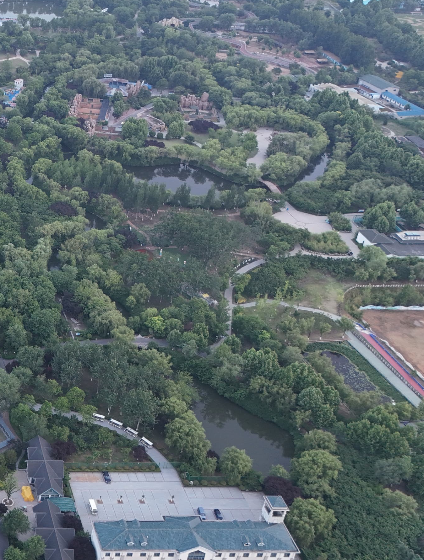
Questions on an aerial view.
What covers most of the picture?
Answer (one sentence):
Most of the picture is covered by trees.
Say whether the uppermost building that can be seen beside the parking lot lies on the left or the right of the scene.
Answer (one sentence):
It is on the left.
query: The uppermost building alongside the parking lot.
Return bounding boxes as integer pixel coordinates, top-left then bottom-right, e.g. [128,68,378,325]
[7,422,64,498]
